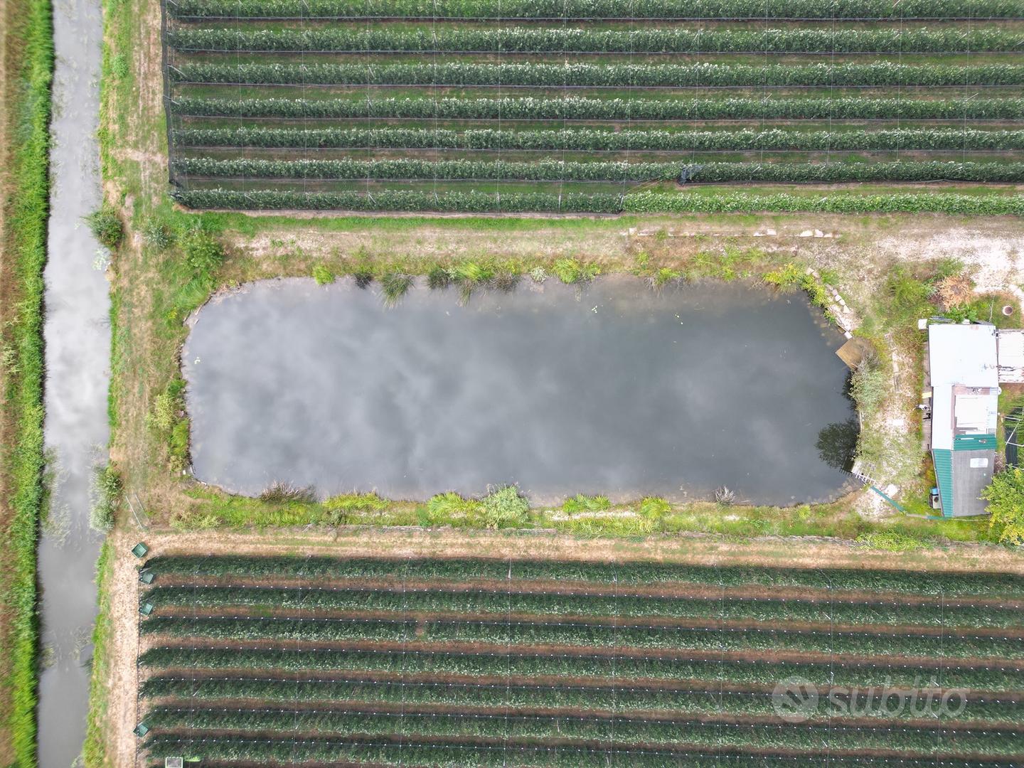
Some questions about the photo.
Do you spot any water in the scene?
Yes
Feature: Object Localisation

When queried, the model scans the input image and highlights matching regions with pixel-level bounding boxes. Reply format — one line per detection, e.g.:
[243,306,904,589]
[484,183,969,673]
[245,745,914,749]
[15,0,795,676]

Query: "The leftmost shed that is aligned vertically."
[918,320,1003,518]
